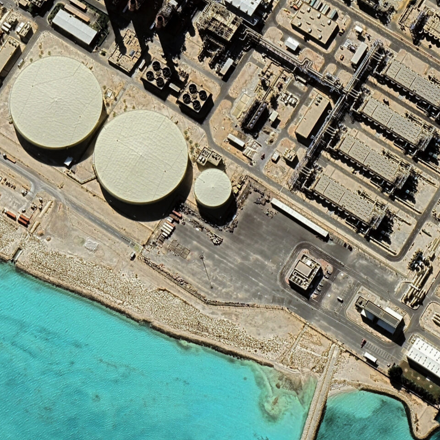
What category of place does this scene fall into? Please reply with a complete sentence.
What you see here is an industrial area.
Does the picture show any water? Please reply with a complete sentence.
Yes, the picture does contain water.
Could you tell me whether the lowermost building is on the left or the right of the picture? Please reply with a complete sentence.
The lowermost building sits on the right side.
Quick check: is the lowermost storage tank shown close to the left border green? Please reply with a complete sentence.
No, from above the lowermost storage tank shown close to the left border looks white.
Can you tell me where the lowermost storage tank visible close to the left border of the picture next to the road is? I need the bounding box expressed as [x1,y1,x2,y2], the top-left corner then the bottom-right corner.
[9,55,103,151]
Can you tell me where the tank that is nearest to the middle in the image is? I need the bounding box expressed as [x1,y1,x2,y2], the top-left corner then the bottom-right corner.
[194,168,233,210]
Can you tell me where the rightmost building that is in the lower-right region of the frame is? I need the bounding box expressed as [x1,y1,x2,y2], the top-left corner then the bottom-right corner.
[408,337,440,379]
